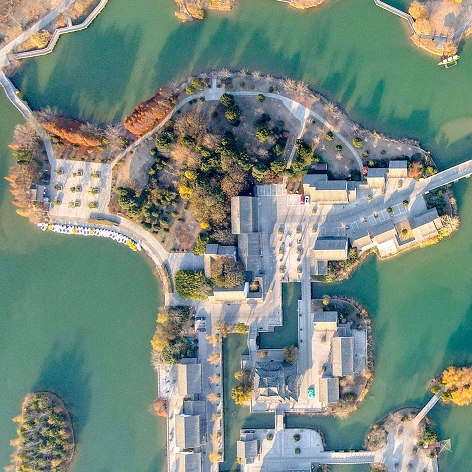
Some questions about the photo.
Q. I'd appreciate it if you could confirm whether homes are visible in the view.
Yes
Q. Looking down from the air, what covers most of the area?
water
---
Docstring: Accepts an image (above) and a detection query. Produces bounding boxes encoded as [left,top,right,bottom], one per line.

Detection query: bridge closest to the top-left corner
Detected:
[0,64,50,143]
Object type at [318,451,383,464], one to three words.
bridge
